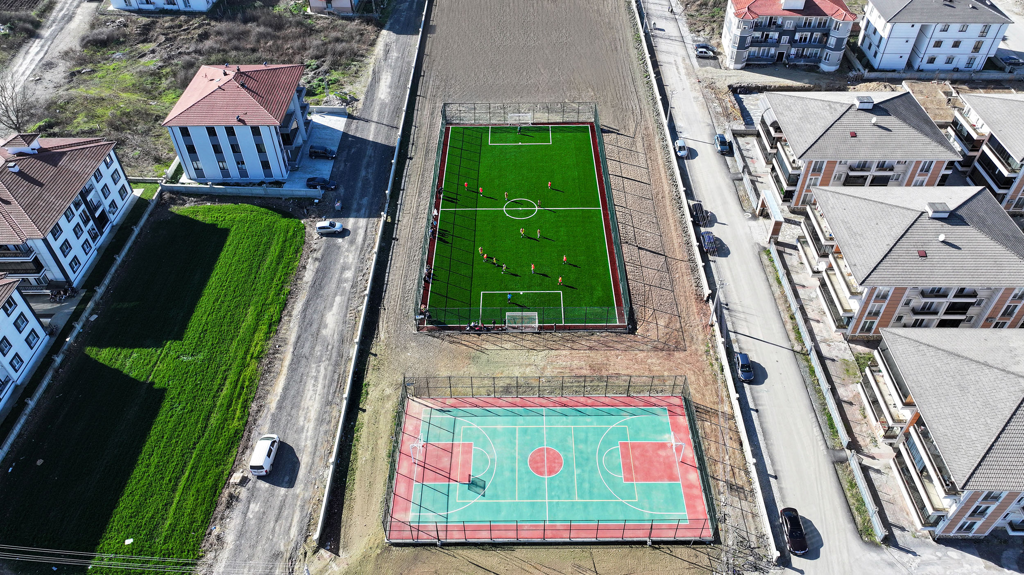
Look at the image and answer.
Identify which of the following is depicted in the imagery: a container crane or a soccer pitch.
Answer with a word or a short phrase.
soccer pitch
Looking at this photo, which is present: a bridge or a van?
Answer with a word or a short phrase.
van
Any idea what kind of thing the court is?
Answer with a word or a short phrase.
basketball court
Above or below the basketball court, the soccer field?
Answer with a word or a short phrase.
above it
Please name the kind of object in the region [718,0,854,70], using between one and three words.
house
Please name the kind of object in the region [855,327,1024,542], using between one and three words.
building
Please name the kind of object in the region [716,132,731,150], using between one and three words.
car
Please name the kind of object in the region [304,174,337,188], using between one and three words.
car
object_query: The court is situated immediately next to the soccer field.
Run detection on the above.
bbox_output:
[387,394,714,542]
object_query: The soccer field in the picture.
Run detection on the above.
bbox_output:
[414,121,629,332]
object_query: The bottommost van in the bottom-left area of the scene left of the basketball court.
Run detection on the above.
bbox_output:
[242,434,280,478]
